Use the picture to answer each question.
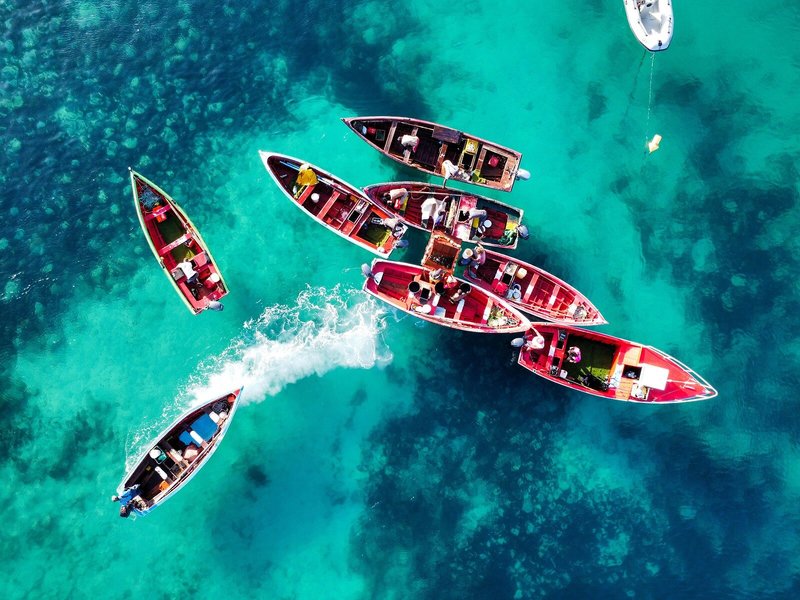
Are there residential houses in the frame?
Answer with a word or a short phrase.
No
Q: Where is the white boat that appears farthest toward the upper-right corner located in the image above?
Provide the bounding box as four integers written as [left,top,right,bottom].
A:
[627,0,676,51]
